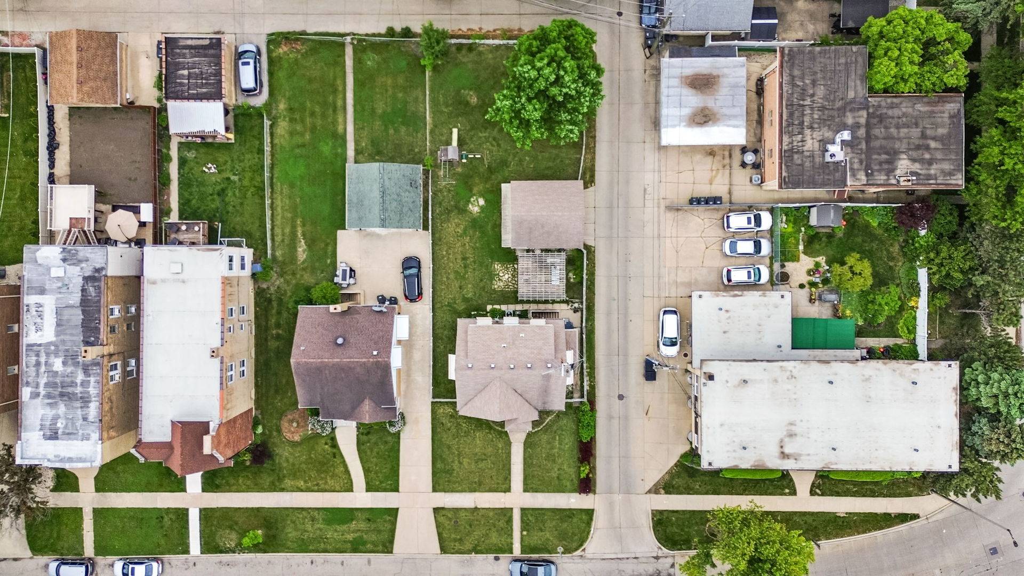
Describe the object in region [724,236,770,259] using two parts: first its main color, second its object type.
white car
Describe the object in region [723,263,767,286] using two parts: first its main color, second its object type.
white car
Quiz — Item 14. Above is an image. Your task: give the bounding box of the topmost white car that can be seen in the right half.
[723,209,770,233]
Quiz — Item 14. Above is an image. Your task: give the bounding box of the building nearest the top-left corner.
[48,27,131,110]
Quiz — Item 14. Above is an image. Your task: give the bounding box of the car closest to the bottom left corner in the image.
[53,554,100,576]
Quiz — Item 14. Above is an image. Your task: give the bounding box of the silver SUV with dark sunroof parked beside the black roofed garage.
[238,47,264,97]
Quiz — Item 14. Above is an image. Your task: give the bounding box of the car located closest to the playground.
[401,257,423,302]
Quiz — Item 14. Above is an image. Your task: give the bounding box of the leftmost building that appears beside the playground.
[346,161,423,232]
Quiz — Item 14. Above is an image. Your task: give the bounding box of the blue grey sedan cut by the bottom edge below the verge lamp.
[509,556,555,576]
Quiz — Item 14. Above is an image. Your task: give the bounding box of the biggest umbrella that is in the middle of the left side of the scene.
[107,209,139,247]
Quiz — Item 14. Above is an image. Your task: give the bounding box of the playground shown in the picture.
[438,128,482,183]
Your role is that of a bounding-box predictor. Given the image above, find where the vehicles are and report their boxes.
[238,47,264,97]
[724,236,770,259]
[509,556,555,576]
[723,263,767,286]
[723,209,770,233]
[657,308,681,354]
[638,0,660,33]
[401,257,423,302]
[53,554,100,576]
[117,555,165,576]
